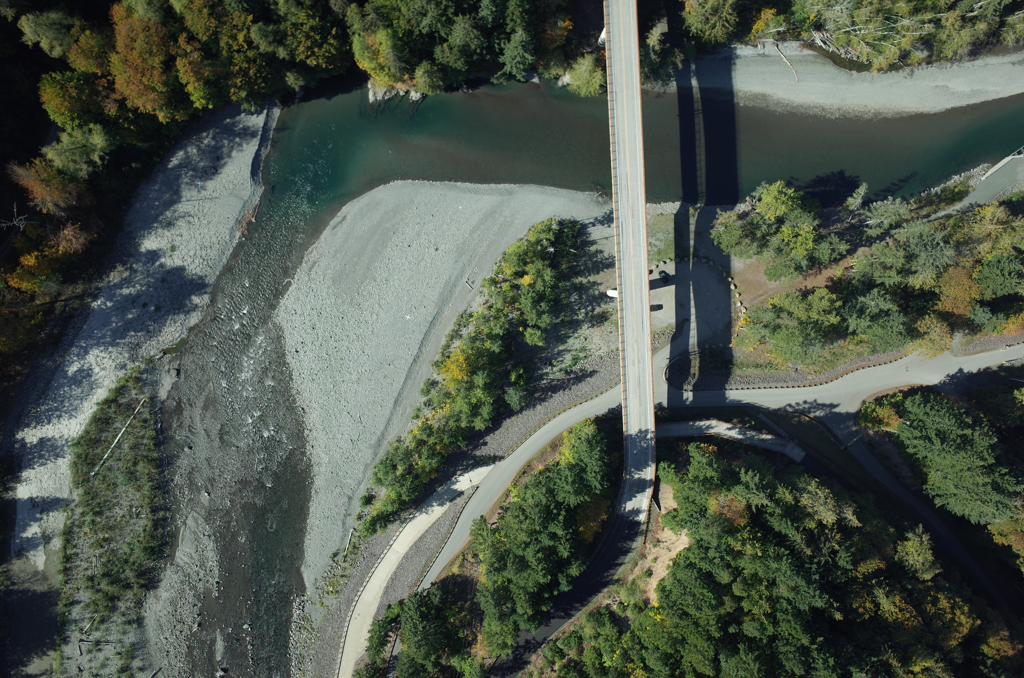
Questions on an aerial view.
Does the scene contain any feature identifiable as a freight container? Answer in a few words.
No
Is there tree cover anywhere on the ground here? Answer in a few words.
Yes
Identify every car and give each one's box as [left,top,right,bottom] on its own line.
[658,271,669,283]
[650,305,660,311]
